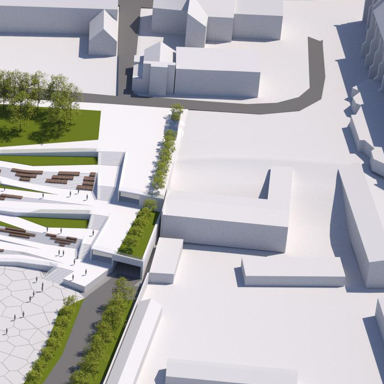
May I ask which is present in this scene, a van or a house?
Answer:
house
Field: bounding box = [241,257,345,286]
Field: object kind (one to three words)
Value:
building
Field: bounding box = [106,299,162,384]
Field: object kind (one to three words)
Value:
building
